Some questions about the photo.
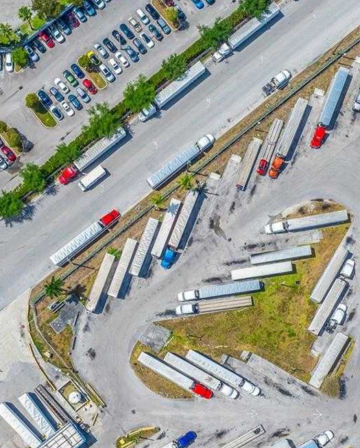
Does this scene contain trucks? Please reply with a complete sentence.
Yes, the picture does show a truck.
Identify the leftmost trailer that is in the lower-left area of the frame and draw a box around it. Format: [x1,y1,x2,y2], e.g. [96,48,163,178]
[0,403,35,448]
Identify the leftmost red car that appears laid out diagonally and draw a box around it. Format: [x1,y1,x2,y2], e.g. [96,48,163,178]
[1,147,16,163]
